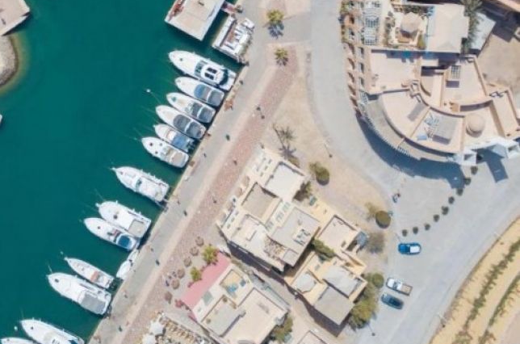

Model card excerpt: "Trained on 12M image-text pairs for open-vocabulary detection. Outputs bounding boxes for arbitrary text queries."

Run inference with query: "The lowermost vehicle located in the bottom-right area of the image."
[379,292,403,309]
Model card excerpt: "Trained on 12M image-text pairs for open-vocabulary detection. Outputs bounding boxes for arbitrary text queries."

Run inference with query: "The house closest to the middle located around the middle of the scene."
[212,145,321,265]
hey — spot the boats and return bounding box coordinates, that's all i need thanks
[166,93,216,125]
[59,255,127,298]
[115,260,128,278]
[168,49,240,93]
[126,249,138,264]
[19,318,89,344]
[153,124,202,163]
[47,273,113,317]
[107,165,184,205]
[83,218,147,258]
[155,106,210,143]
[141,139,189,171]
[0,336,39,344]
[174,77,229,109]
[90,199,153,239]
